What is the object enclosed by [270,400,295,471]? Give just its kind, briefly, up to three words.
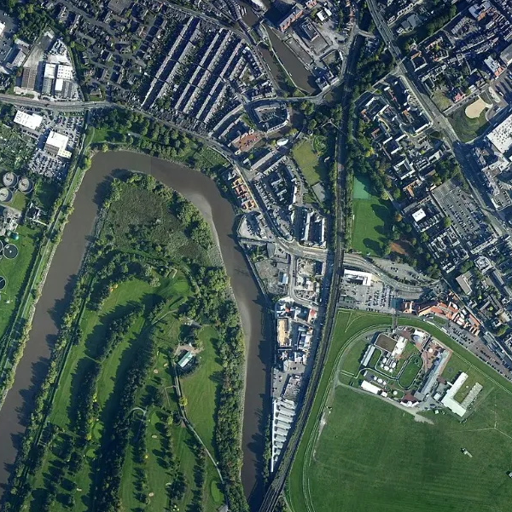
building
